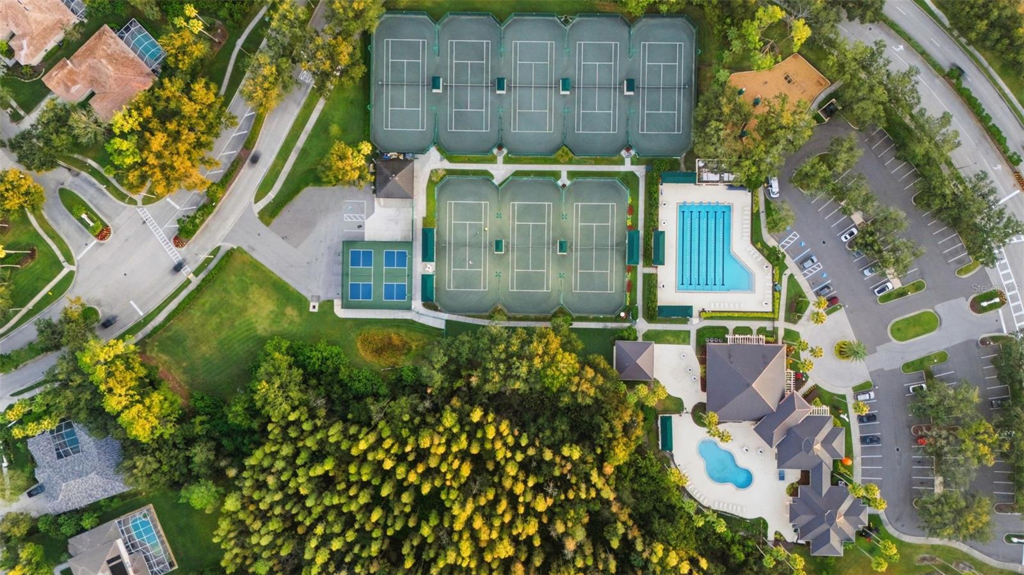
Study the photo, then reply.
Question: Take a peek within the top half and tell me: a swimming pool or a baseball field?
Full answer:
The one visible within the top half is a swimming pool.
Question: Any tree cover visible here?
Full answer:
Yes, tree cover shows up in the scene.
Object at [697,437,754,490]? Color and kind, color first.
blue swimming pool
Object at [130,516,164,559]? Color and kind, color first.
blue swimming pool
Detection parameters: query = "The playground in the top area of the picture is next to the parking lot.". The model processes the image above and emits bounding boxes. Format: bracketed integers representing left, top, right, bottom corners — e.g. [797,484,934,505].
[728,53,830,146]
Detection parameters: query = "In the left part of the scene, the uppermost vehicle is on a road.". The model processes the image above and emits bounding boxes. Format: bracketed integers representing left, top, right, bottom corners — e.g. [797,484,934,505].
[248,148,262,166]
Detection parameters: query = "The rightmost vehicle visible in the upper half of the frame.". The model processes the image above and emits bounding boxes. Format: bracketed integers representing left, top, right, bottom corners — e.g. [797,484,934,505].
[947,63,965,80]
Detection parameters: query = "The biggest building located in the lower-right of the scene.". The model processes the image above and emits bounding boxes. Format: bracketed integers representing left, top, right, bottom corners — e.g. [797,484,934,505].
[704,343,868,556]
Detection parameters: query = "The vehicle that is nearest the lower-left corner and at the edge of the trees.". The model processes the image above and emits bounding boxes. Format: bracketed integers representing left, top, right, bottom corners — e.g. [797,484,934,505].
[25,482,45,497]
